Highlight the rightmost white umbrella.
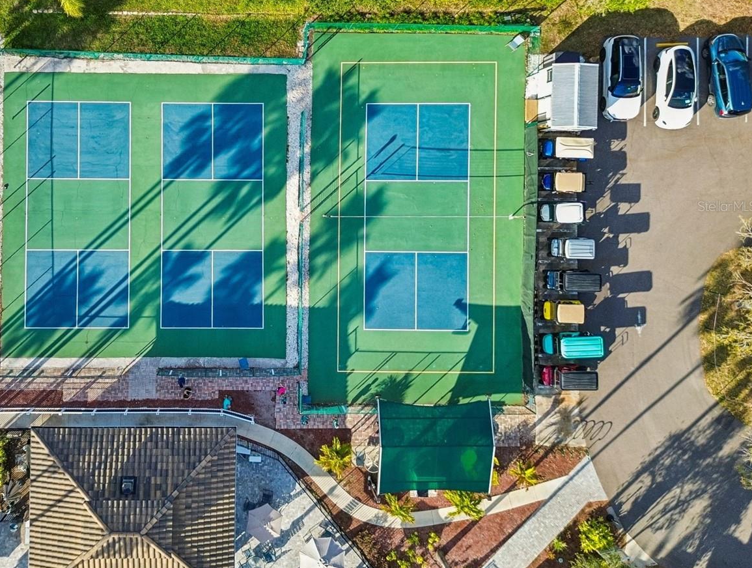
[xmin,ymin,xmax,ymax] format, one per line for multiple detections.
[298,532,344,568]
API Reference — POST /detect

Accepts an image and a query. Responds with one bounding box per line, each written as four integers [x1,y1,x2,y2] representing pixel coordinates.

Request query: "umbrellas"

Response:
[298,532,344,568]
[2,473,28,502]
[245,499,282,536]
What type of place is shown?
sports ground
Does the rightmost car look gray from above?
No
